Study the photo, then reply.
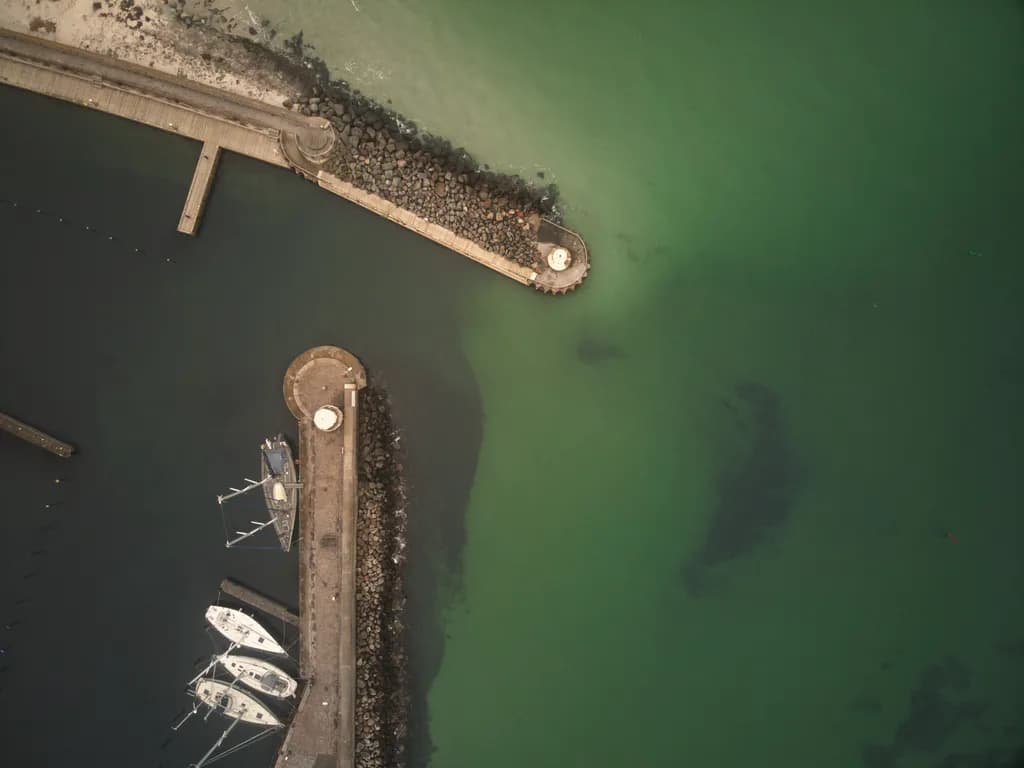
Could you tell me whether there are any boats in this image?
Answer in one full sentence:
Yes, there's a boat here.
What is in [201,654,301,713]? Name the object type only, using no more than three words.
boat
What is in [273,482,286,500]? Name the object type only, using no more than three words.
boat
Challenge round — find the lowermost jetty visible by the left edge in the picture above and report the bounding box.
[0,412,75,457]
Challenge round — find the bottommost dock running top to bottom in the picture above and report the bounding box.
[275,345,370,768]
